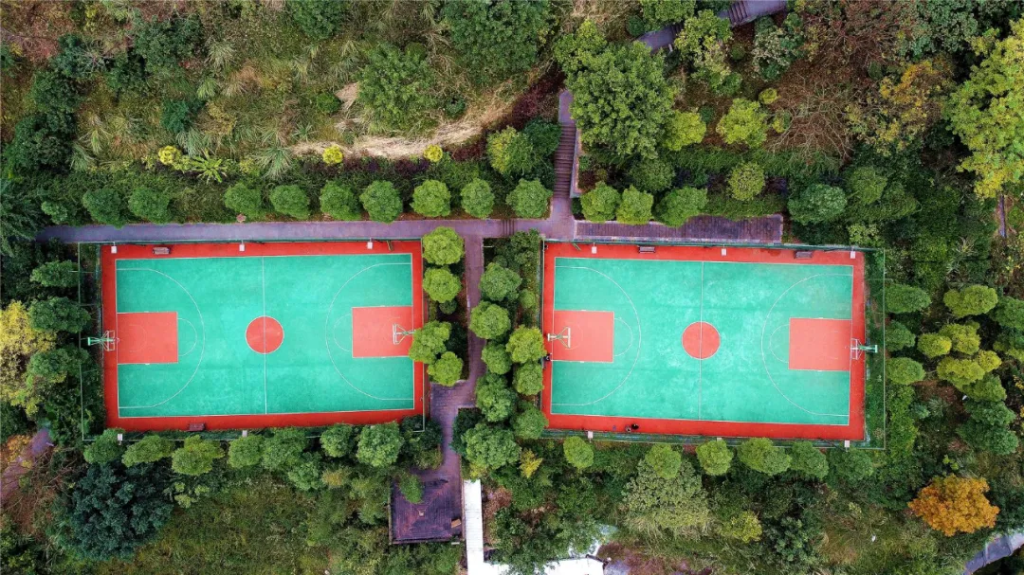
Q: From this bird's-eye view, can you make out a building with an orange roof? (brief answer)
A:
No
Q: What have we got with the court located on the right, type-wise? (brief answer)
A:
basketball court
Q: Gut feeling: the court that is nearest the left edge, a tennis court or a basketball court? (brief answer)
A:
basketball court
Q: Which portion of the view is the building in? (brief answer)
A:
bottom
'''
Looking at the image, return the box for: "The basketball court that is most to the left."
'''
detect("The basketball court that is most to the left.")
[100,237,431,431]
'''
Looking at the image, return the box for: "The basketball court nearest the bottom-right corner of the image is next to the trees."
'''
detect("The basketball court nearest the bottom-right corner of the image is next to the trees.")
[539,241,867,441]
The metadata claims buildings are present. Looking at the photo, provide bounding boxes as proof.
[393,477,451,541]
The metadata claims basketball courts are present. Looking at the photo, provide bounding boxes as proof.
[539,241,867,441]
[100,237,431,431]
